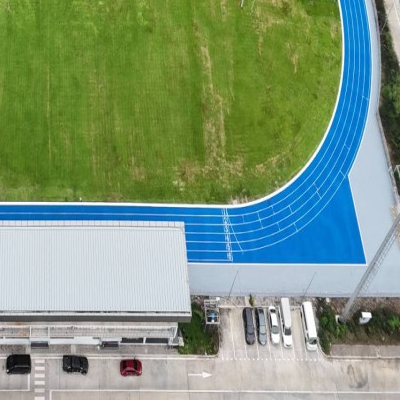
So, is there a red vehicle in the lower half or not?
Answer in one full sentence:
Yes, a red vehicle appears in the lower half.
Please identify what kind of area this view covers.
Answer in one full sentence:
This looks like a sports ground.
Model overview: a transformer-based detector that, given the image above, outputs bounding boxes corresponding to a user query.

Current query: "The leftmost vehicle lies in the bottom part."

[6,355,30,377]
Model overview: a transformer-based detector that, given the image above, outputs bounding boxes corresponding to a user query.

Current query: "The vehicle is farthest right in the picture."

[300,297,319,357]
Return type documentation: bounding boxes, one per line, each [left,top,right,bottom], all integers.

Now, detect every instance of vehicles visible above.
[266,305,281,346]
[120,359,143,378]
[243,305,257,348]
[278,291,296,352]
[255,305,269,347]
[300,297,319,357]
[62,356,88,377]
[6,355,30,377]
